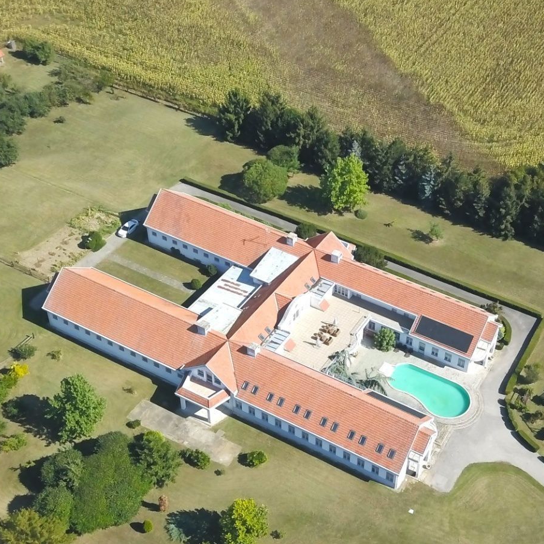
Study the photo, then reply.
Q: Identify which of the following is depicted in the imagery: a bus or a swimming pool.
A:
swimming pool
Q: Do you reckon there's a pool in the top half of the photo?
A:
No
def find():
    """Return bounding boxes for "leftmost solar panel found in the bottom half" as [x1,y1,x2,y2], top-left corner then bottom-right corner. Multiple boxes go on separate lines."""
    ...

[367,393,427,419]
